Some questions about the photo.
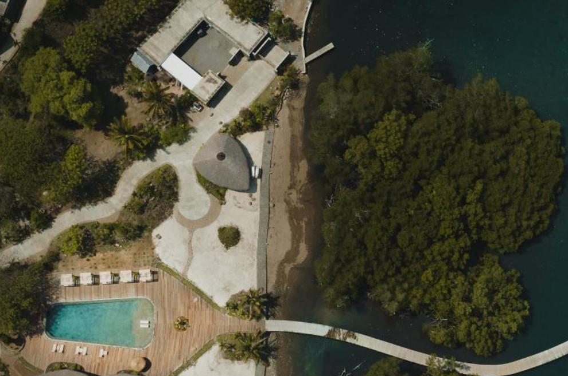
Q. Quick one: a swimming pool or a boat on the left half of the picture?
swimming pool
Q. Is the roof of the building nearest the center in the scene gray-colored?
Yes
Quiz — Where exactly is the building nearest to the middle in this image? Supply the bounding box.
[193,133,250,190]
